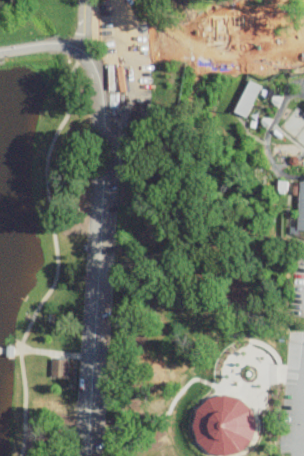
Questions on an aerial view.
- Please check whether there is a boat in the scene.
No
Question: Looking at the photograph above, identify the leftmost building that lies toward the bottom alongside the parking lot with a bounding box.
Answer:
[193,395,260,456]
